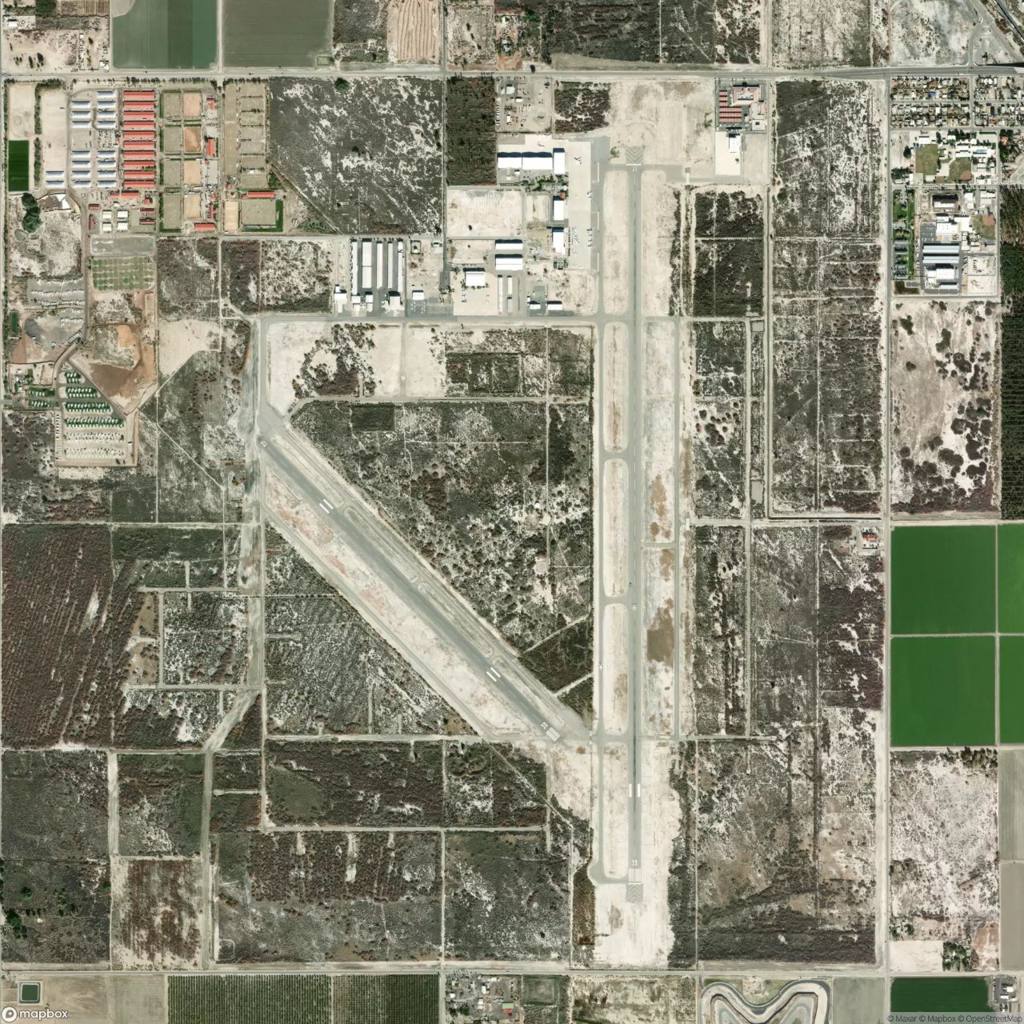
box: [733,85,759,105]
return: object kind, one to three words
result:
building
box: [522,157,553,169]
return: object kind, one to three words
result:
hangar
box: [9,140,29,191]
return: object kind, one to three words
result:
sports field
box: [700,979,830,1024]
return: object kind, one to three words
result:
race track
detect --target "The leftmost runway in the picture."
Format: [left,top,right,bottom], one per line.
[255,435,563,748]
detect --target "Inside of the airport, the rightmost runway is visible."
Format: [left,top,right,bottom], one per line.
[626,164,641,884]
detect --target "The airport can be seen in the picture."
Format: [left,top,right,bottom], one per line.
[255,132,766,902]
